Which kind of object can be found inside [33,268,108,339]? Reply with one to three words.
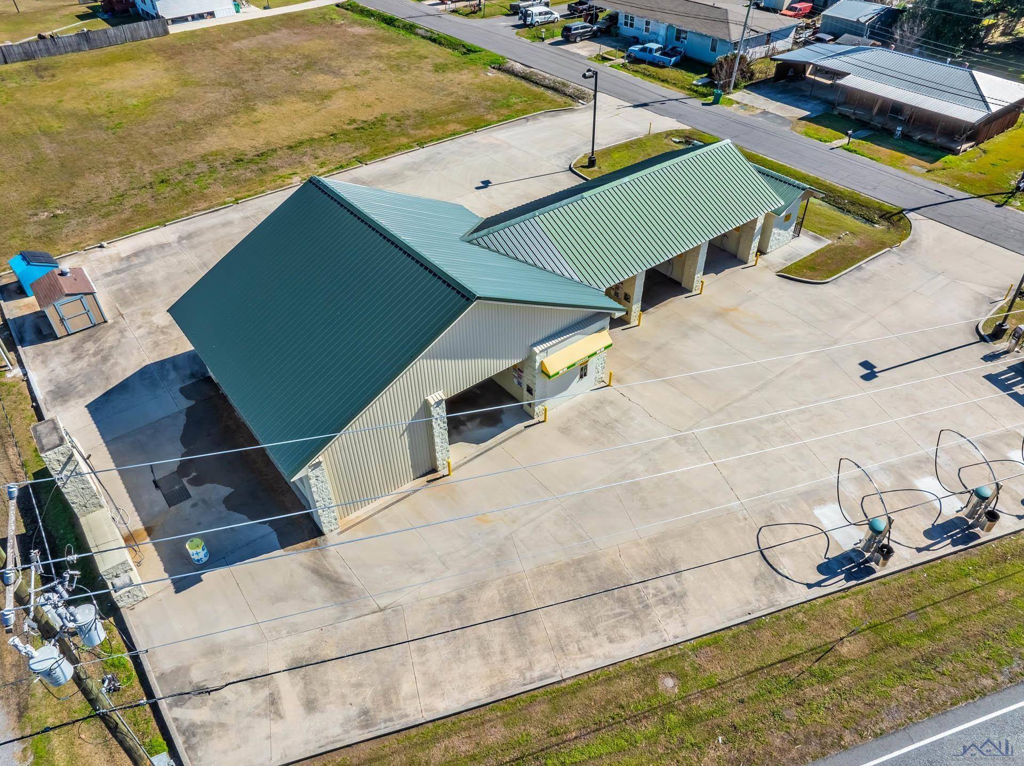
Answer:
shed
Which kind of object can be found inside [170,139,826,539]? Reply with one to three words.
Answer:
building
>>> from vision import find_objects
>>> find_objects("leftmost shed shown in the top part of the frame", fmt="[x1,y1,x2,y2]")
[1,243,56,298]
